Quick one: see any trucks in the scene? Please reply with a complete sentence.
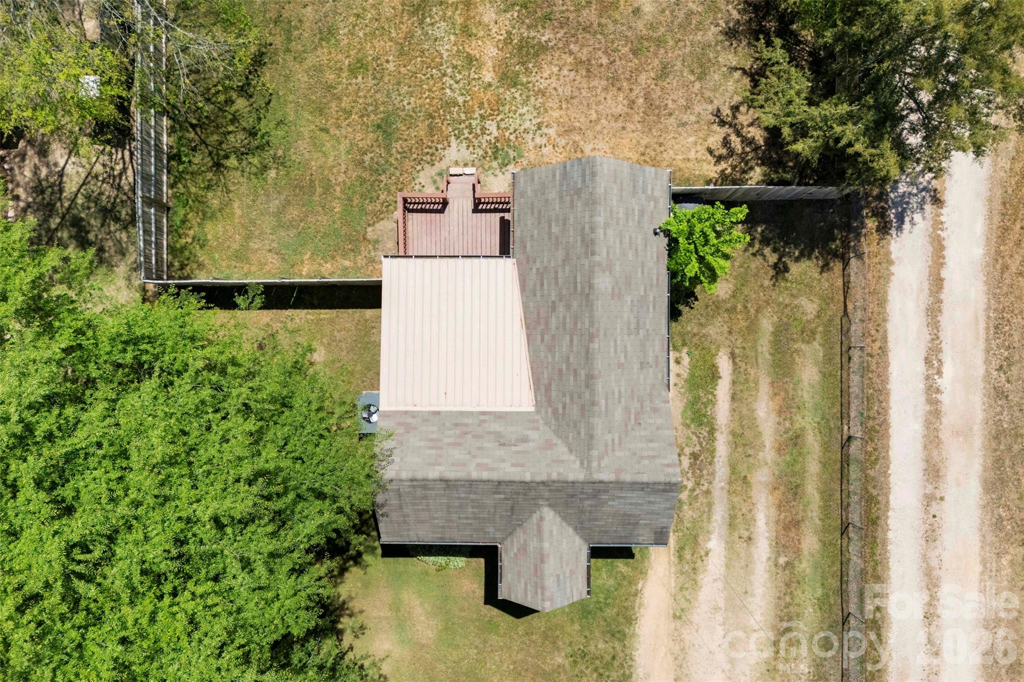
No, there is no truck in the image.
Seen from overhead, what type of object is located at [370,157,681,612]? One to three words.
house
